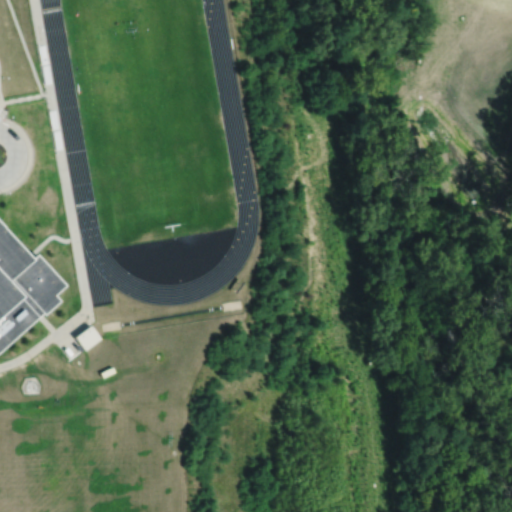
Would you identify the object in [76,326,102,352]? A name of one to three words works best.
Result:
shed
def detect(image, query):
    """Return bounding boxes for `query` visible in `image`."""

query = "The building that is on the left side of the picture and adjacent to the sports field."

[0,218,68,354]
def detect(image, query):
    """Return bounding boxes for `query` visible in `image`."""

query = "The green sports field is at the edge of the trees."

[62,0,238,248]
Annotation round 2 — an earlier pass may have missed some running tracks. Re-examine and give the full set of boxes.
[41,0,258,316]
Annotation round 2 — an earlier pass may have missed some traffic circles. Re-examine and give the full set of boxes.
[0,114,35,197]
